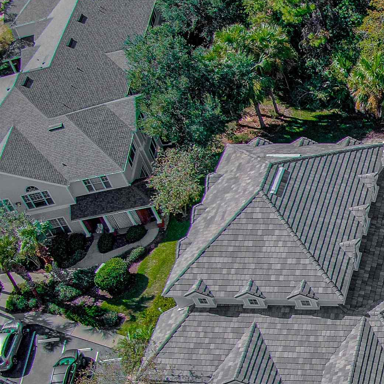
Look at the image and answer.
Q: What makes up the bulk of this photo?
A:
buildings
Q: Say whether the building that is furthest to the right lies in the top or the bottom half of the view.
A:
bottom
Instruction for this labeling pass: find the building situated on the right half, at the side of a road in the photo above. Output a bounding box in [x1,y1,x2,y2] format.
[126,131,384,384]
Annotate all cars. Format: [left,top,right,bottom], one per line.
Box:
[0,319,33,381]
[39,346,91,384]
